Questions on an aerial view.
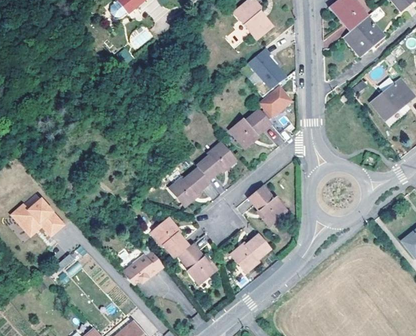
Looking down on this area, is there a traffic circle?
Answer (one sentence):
Yes, a traffic circle can be made out from above.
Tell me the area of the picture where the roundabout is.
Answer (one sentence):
The roundabout is located in the right region of the scene.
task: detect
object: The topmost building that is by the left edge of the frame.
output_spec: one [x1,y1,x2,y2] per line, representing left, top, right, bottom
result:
[10,198,66,238]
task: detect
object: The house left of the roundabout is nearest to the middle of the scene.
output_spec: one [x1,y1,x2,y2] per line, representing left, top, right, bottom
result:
[168,142,238,208]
